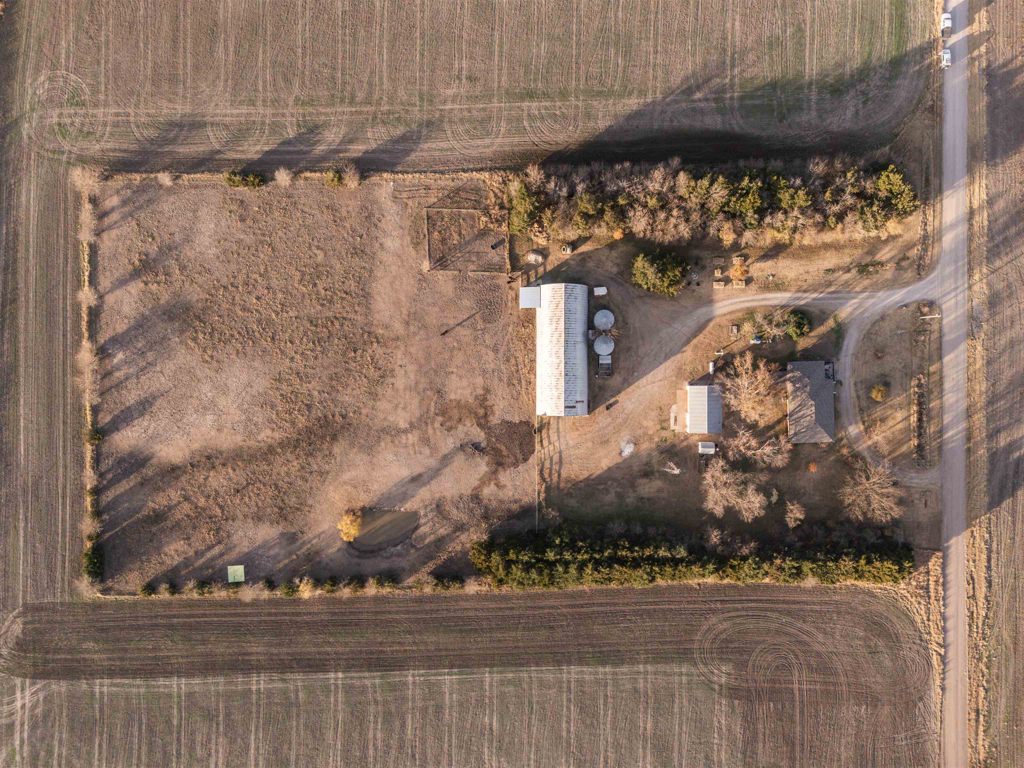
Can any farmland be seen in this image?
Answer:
Yes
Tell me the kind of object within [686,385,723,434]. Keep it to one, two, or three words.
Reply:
building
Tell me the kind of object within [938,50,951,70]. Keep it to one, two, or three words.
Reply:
vehicle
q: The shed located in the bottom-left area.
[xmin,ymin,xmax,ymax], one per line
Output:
[227,564,248,582]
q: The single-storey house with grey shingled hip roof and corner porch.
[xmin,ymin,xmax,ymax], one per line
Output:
[786,361,837,442]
